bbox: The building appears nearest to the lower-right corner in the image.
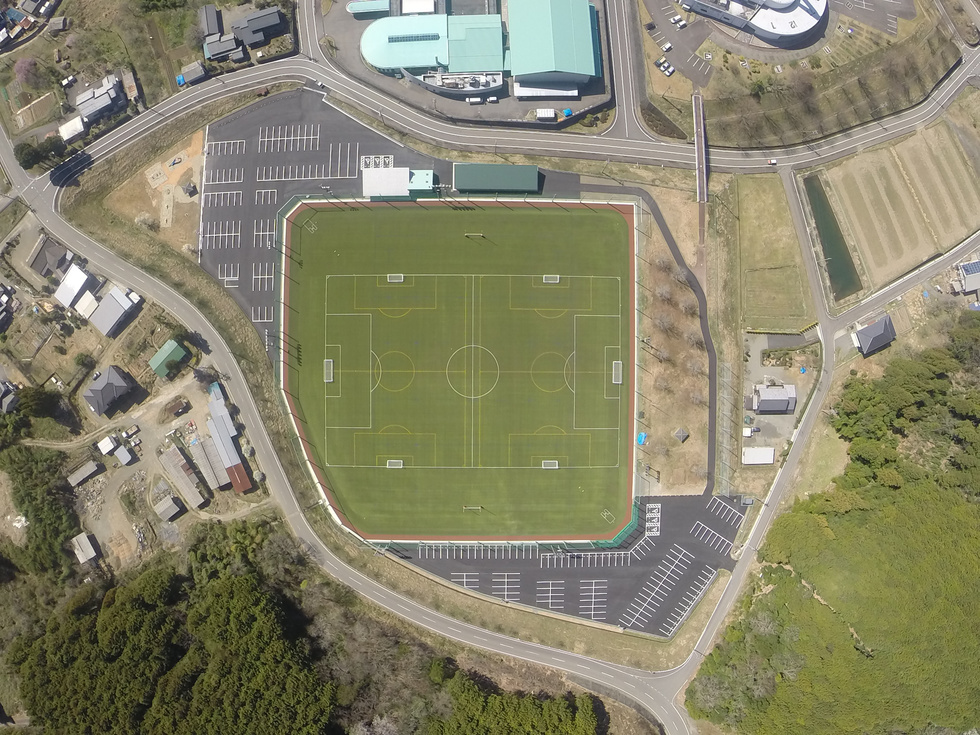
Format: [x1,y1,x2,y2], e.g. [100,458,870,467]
[741,447,774,464]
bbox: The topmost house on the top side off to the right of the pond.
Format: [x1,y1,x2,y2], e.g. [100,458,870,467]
[946,258,980,292]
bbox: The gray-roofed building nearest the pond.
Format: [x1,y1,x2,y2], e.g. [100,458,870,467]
[847,314,898,355]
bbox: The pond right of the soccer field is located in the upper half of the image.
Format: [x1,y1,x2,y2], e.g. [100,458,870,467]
[803,174,863,302]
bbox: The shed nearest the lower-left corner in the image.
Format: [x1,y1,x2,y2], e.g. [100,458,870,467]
[73,531,101,564]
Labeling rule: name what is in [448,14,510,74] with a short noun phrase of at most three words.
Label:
building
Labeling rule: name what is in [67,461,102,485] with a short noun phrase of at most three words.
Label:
shed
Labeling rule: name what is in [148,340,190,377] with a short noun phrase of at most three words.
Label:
house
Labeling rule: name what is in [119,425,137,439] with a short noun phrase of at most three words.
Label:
vehicle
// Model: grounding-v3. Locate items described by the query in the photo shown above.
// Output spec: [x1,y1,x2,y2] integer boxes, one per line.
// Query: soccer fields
[283,202,634,541]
